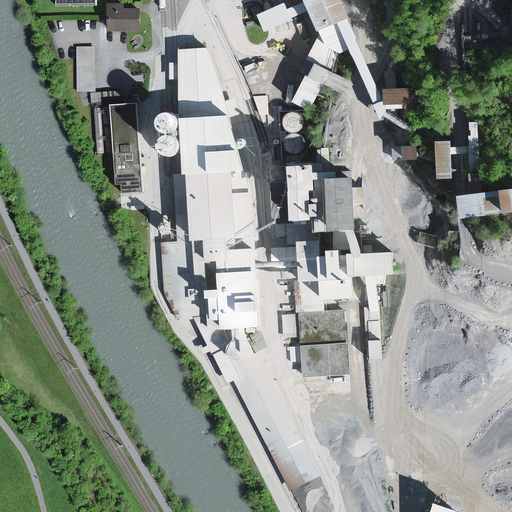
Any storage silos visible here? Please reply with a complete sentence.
Yes, the frame does contain a storage silo.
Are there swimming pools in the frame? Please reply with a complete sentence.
No, no swimming pool can be seen from above.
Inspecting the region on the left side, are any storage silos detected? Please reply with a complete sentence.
Yes, a storage silo can be seen on the left side.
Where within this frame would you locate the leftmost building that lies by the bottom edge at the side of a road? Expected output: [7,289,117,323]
[230,364,320,491]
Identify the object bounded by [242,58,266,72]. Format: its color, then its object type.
white vehicle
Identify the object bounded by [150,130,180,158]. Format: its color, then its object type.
white silo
